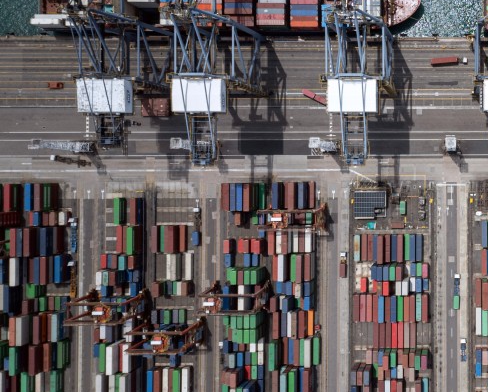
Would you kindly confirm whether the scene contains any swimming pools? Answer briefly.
No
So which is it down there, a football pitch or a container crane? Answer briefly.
container crane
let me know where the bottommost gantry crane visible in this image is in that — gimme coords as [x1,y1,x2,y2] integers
[123,316,203,356]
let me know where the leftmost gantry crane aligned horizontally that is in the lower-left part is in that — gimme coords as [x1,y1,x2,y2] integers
[65,288,147,326]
